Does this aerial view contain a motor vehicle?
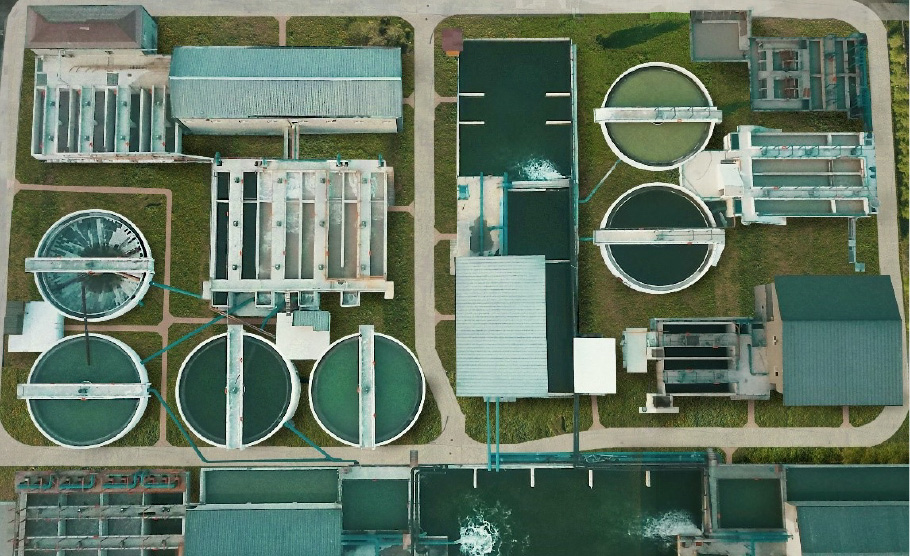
No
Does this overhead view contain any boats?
No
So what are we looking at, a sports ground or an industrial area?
industrial area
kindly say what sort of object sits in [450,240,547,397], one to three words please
building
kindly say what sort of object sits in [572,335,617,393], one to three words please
shed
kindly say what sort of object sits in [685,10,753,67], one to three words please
storage tank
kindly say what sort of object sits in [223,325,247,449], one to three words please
bridge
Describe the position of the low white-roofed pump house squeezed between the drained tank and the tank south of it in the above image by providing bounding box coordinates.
[4,302,71,352]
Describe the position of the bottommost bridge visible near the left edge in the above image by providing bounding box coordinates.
[13,383,151,399]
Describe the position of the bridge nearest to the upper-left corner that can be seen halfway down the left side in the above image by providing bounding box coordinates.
[23,258,156,273]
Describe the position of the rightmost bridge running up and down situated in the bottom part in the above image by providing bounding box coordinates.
[358,325,376,449]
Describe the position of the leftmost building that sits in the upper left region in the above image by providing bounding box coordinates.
[25,4,154,54]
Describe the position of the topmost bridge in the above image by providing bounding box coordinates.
[593,107,723,126]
